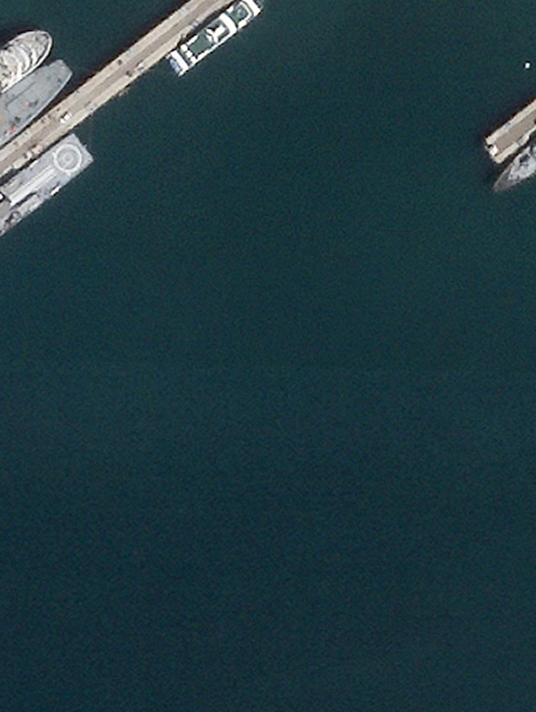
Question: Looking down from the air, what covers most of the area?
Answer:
water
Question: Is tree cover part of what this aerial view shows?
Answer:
No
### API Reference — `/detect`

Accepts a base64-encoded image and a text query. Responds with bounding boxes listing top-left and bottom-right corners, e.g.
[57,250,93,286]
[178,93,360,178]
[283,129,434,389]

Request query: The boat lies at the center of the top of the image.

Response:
[156,0,266,76]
